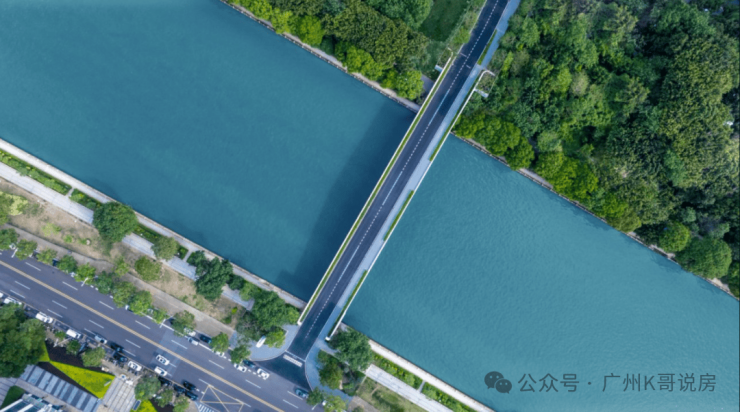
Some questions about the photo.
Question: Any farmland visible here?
No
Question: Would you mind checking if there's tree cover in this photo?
Yes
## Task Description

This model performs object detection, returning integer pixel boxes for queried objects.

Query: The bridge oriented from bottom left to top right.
[299,60,481,339]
